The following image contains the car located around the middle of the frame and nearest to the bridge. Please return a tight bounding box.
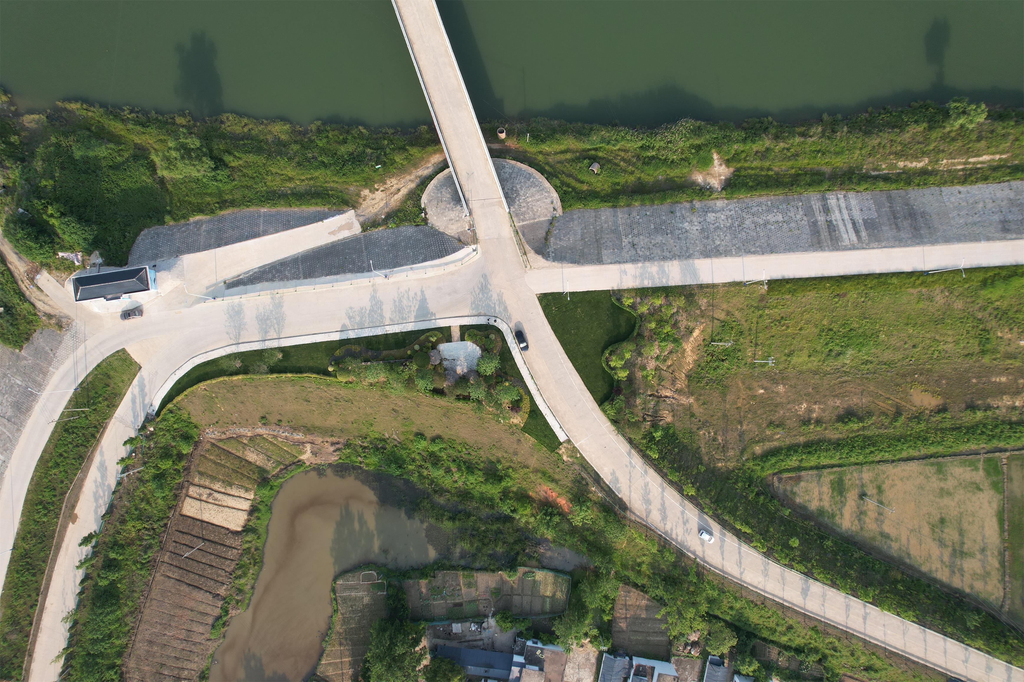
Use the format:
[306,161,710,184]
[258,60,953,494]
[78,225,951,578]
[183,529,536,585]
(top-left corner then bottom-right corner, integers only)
[515,330,529,352]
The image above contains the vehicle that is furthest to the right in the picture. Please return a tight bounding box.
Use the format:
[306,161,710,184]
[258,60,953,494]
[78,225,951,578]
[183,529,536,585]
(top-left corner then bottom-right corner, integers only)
[698,530,717,546]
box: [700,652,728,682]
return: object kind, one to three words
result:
house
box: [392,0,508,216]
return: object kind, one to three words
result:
bridge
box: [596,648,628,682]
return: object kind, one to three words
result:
house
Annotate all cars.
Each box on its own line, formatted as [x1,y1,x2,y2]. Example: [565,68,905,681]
[515,330,529,352]
[698,530,717,546]
[118,308,142,319]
